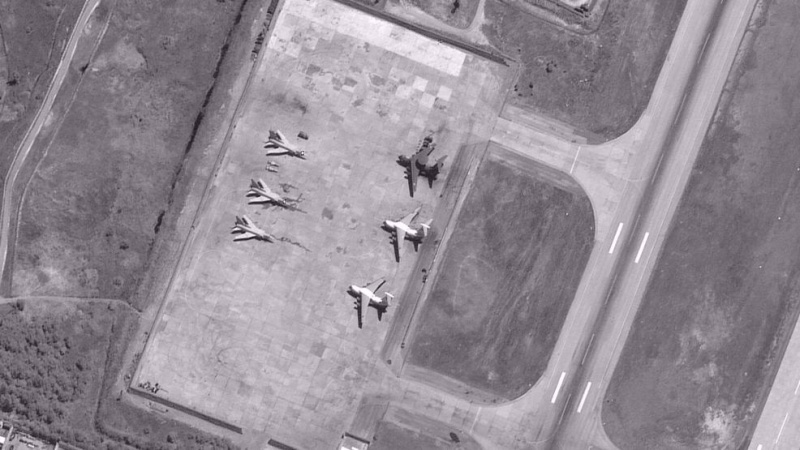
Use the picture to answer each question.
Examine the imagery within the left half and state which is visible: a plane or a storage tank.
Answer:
plane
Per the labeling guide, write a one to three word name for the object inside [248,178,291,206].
airplane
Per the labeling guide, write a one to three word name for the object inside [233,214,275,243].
airplane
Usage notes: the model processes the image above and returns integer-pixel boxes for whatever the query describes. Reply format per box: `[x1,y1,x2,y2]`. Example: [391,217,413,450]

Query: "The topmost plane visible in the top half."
[265,129,307,158]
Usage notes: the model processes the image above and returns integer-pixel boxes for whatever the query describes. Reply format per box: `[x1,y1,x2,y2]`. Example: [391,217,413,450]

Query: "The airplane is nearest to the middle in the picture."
[384,208,433,258]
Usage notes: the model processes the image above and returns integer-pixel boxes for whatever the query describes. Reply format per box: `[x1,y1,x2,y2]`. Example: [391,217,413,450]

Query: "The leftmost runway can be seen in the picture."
[512,0,761,450]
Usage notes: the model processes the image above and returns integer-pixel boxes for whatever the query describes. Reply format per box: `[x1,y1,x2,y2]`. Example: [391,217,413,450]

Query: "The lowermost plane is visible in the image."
[348,277,397,327]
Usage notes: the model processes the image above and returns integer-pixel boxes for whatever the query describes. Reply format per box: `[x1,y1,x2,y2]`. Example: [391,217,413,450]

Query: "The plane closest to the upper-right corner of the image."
[399,141,448,191]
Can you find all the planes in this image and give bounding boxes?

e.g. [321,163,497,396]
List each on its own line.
[265,129,307,158]
[233,214,275,243]
[348,277,397,327]
[399,141,448,191]
[384,208,433,258]
[248,178,291,206]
